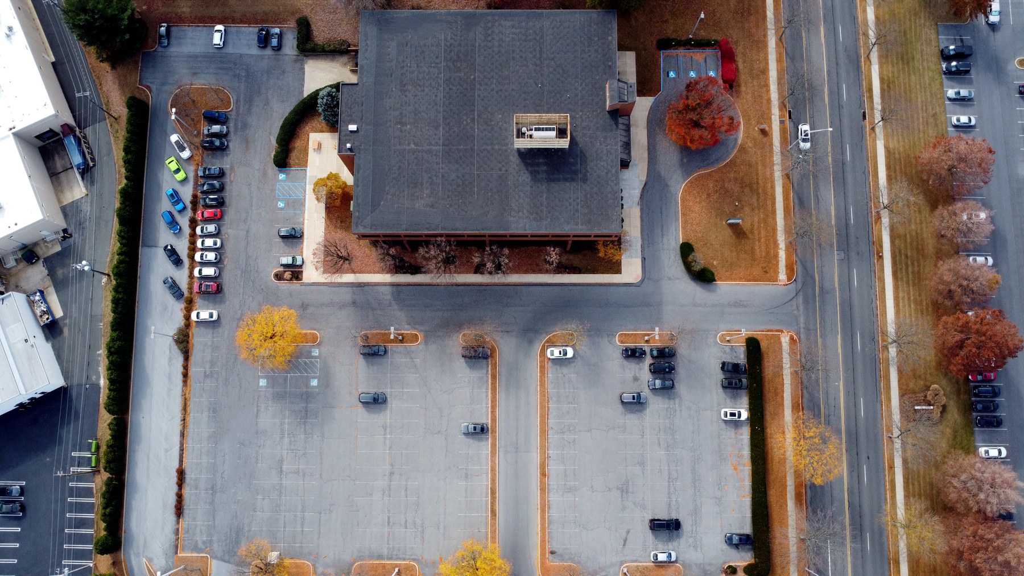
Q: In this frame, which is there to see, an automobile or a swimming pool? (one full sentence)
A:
I can see an automobile in this picture.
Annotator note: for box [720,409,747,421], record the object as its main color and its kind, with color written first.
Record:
white vehicle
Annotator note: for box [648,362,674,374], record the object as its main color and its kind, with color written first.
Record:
black vehicle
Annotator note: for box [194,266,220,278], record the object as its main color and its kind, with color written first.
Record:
white vehicle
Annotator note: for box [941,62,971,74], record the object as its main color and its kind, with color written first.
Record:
black vehicle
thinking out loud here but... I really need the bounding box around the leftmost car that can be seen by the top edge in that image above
[158,24,171,48]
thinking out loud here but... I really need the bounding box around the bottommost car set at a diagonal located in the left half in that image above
[163,275,184,301]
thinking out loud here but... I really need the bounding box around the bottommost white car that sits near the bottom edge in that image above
[649,550,677,564]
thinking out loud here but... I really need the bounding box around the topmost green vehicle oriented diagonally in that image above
[167,157,186,181]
